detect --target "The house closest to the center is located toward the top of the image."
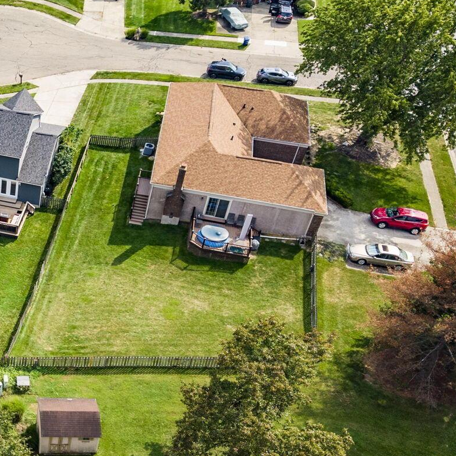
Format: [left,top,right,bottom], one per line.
[127,82,329,246]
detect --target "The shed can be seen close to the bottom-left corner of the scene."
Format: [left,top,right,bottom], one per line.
[37,399,104,454]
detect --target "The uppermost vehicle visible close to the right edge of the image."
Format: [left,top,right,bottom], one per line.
[371,205,435,233]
